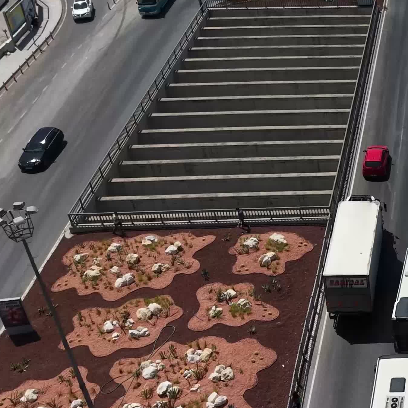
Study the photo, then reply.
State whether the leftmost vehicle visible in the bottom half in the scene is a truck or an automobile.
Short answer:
truck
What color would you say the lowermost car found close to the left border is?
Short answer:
black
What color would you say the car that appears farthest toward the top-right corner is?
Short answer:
red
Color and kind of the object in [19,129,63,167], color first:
black car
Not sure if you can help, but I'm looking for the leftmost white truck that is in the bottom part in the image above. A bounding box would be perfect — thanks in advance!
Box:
[324,198,389,323]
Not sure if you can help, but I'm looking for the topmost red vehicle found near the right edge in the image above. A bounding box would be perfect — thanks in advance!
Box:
[364,145,391,177]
